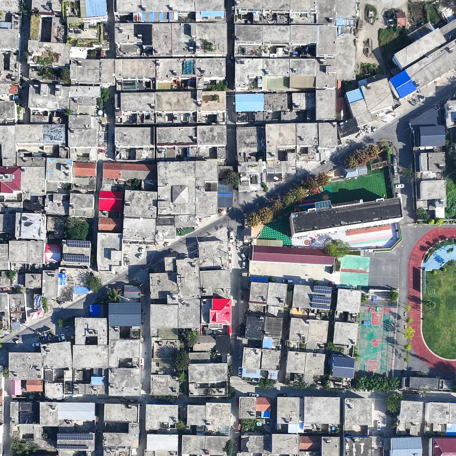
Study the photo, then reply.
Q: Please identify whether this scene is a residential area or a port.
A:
residential area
